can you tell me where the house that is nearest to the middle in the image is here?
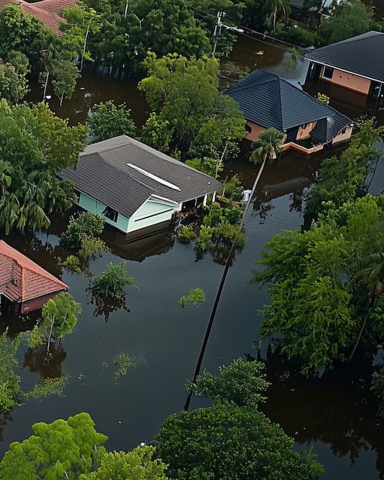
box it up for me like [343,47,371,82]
[58,133,223,235]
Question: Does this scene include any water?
Yes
